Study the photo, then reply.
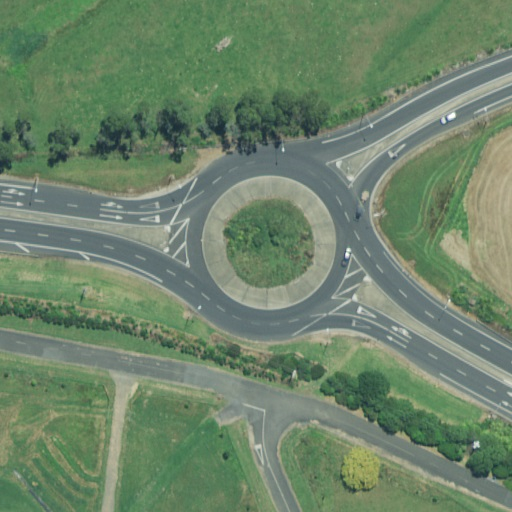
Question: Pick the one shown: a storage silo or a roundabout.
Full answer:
Of the two, only a roundabout appears.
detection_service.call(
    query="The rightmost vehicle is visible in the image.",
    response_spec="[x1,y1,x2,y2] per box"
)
[440,112,457,124]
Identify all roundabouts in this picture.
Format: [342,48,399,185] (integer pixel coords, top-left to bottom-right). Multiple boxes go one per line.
[184,146,370,340]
